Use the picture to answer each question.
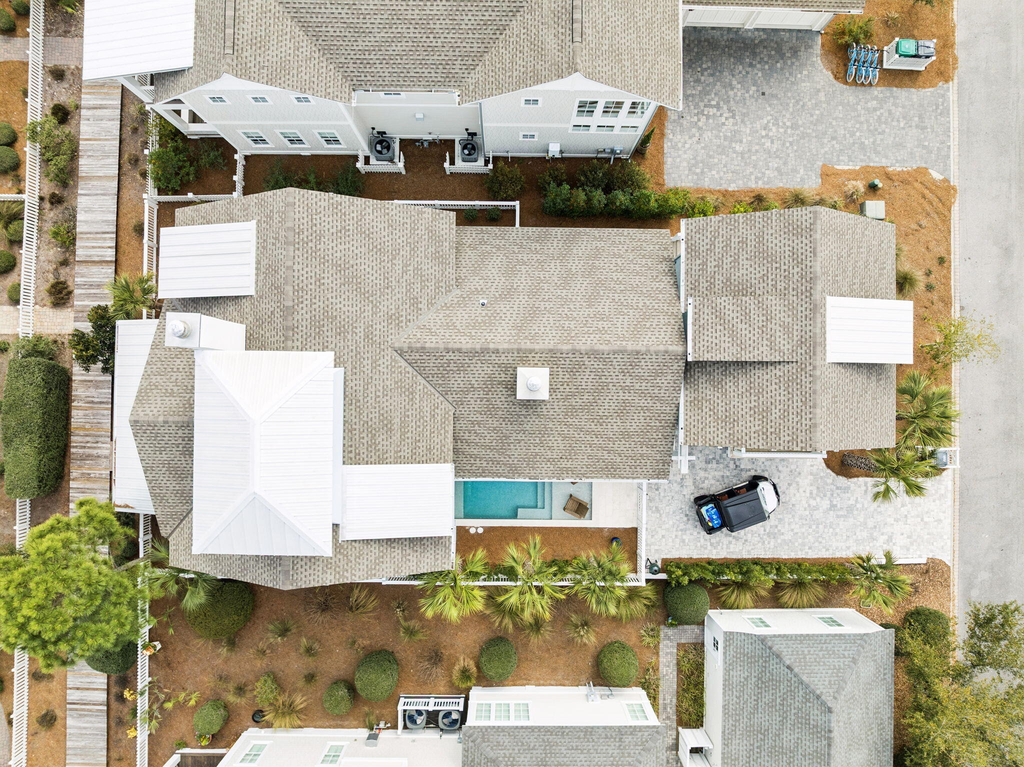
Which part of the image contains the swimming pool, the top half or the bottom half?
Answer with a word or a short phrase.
bottom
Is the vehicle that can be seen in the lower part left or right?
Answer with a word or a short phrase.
right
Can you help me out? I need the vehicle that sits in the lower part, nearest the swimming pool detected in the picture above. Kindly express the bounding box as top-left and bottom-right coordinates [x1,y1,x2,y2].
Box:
[692,474,784,536]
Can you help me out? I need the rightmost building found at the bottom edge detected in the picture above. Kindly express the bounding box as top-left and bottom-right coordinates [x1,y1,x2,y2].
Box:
[674,599,897,767]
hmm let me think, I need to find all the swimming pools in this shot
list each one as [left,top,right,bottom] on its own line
[457,485,592,520]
